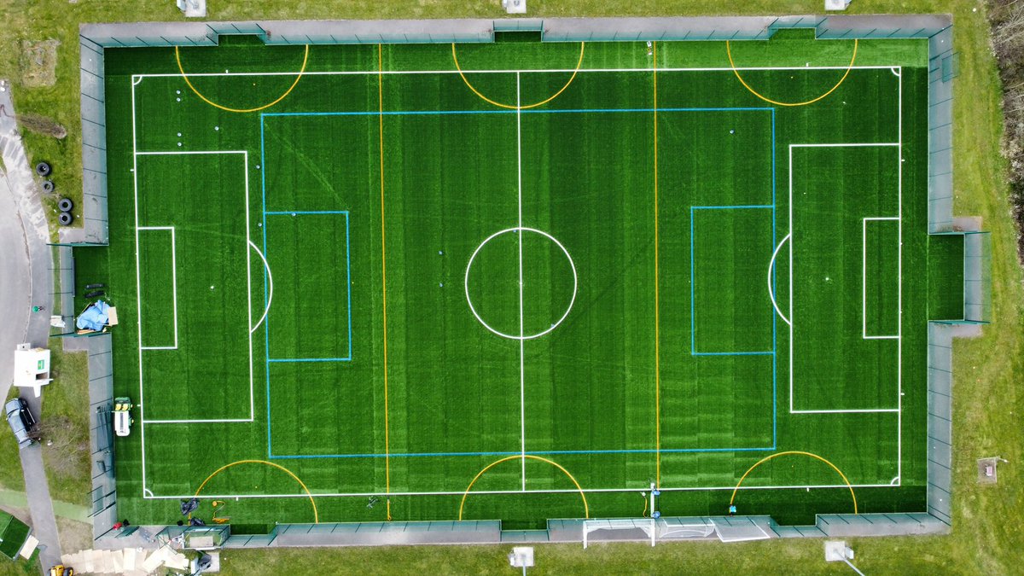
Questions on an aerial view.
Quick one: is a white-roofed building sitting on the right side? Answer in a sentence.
No, the scene shows no white-roofed building on the right side.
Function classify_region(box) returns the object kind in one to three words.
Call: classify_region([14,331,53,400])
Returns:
building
